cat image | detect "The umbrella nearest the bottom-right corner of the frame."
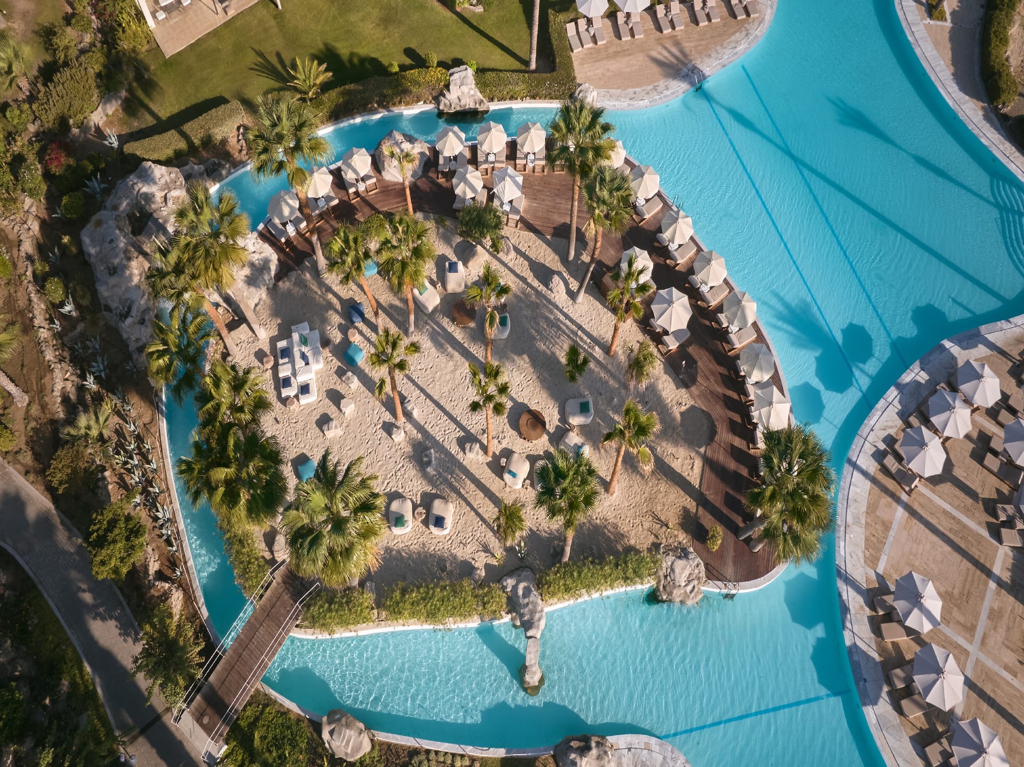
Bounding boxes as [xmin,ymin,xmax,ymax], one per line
[952,715,1008,767]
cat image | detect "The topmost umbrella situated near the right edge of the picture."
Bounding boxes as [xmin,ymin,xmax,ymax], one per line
[956,357,999,409]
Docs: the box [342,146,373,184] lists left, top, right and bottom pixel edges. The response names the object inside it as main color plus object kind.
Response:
white umbrella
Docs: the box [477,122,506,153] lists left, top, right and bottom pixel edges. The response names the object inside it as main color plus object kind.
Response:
white umbrella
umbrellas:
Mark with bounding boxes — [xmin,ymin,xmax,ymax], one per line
[752,383,793,432]
[928,388,972,441]
[661,209,693,256]
[650,287,692,338]
[629,166,659,209]
[342,146,373,184]
[578,0,609,21]
[304,165,334,212]
[603,137,633,173]
[622,247,653,280]
[477,122,506,153]
[492,167,523,200]
[692,250,726,295]
[738,341,773,388]
[952,715,1008,767]
[910,645,964,711]
[452,166,482,212]
[269,189,301,227]
[899,422,946,479]
[515,123,544,168]
[956,357,999,409]
[617,0,650,21]
[724,290,756,328]
[436,125,466,163]
[894,570,945,634]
